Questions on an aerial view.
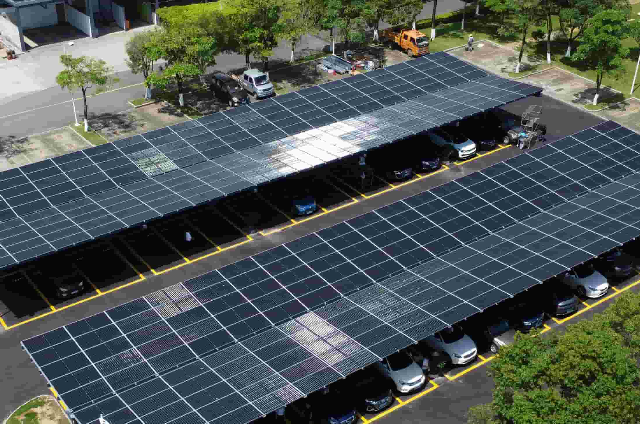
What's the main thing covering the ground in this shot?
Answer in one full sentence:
Most of the picture is covered by buildings.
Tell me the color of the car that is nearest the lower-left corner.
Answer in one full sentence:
From above, the car that is nearest the lower-left corner appears black.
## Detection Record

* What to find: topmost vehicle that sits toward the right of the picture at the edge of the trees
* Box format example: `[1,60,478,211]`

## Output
[379,25,431,56]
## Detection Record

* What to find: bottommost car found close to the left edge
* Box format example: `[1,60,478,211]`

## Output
[31,252,84,298]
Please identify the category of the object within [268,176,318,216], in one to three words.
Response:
car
